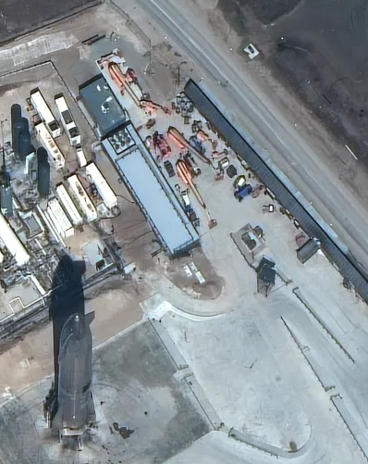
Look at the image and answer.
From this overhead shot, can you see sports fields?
No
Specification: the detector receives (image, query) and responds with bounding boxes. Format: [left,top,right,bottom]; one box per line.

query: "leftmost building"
[23,214,47,239]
